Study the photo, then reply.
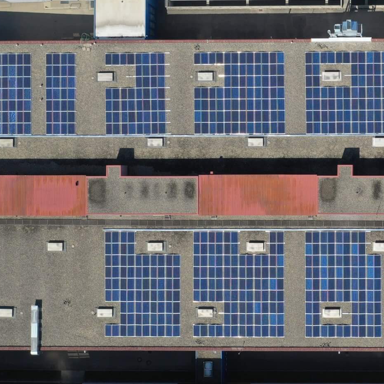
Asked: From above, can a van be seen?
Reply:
No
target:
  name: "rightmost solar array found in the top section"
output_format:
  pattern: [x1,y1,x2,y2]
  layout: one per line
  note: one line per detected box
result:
[306,51,384,134]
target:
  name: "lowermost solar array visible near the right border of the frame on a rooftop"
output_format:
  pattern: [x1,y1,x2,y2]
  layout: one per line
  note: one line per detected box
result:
[305,231,382,338]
